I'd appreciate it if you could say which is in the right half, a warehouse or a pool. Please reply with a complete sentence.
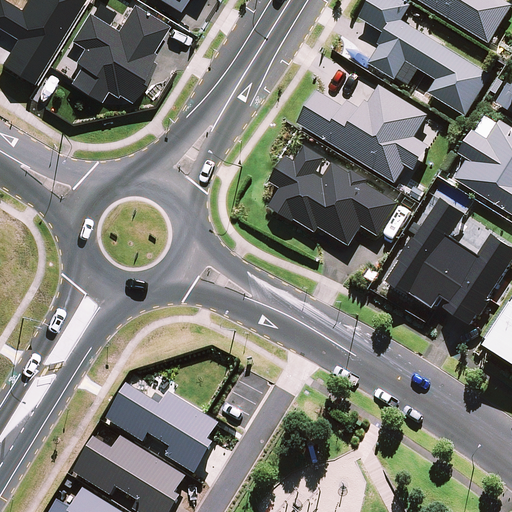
You can see a pool in the right half.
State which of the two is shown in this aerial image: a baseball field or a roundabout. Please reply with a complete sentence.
The one in the frame is a roundabout.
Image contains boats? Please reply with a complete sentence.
Yes, looking at the shot, I can spot a boat.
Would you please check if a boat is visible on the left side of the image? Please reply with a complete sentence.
Yes, on the left side of the image there is a boat.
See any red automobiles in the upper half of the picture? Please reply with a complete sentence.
Yes, a red automobile can be seen in the upper half of the picture.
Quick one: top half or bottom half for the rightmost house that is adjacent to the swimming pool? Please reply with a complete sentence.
Seen from above, the rightmost house that is adjacent to the swimming pool lies in the top half of the view.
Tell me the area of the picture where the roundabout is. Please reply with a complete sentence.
The roundabout is in the left part of the image.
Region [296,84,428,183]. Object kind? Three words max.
house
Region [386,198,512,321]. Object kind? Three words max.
house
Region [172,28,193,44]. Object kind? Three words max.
vehicle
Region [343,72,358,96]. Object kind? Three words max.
car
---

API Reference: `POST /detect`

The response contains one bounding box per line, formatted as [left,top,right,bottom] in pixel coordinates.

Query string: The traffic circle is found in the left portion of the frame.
[97,196,172,272]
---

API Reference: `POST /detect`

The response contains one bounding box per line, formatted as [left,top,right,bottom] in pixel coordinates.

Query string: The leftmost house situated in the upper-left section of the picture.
[0,0,88,85]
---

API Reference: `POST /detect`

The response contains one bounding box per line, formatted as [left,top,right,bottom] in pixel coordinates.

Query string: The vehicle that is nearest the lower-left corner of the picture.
[24,353,41,378]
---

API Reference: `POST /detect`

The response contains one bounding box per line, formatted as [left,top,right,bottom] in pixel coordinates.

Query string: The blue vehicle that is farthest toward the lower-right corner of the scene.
[410,372,432,389]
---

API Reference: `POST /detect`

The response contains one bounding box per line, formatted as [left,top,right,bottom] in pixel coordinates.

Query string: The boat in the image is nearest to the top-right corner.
[343,44,370,67]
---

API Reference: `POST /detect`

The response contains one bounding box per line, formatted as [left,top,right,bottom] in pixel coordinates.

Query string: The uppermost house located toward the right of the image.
[416,0,511,43]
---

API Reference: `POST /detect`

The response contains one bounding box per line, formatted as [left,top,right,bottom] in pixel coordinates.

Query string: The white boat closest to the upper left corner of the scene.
[42,74,60,106]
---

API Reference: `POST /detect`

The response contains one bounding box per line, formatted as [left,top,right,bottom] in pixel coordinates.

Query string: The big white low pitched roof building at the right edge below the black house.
[482,300,512,364]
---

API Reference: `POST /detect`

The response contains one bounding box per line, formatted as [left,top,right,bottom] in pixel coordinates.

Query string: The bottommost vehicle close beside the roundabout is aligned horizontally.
[124,280,149,292]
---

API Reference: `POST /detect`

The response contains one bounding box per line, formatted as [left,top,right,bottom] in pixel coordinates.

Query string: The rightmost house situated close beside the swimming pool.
[454,112,512,220]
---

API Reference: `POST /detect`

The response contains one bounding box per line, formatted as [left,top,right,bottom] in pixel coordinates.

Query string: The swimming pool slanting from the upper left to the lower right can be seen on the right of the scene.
[435,176,474,210]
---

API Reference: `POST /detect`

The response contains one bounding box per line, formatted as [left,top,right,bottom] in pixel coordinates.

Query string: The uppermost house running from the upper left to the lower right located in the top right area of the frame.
[358,0,484,114]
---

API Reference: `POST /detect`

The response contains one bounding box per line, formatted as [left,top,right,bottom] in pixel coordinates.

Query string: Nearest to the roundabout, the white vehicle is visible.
[80,218,94,240]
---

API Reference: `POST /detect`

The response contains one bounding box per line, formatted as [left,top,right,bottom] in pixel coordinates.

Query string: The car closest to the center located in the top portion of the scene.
[199,160,214,184]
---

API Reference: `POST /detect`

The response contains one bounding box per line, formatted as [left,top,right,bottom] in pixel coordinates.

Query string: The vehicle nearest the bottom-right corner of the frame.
[405,406,424,422]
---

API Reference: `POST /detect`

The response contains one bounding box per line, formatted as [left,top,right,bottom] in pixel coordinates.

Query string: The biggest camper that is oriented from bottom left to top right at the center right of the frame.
[384,204,411,242]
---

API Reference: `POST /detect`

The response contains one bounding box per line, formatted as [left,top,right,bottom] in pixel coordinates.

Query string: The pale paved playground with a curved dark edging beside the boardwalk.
[270,450,367,512]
